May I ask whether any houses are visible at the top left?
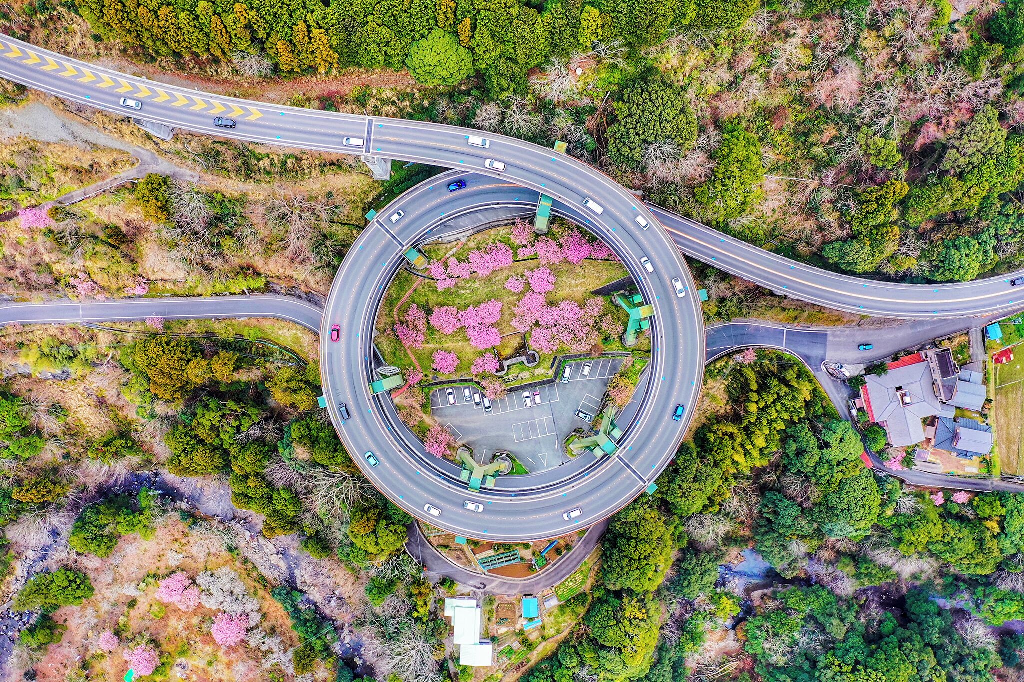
No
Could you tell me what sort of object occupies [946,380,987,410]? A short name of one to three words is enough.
shed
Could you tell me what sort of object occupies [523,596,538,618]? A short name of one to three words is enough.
shed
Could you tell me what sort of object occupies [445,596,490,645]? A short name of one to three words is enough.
house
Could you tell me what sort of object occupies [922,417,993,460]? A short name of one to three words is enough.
house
